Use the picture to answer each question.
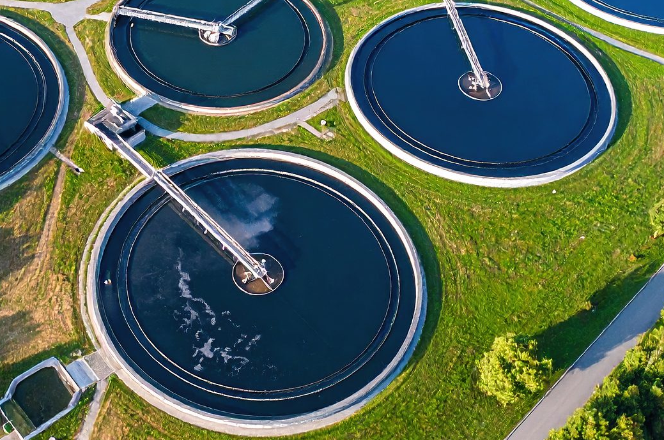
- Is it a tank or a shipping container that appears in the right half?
tank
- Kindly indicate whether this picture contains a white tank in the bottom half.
No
